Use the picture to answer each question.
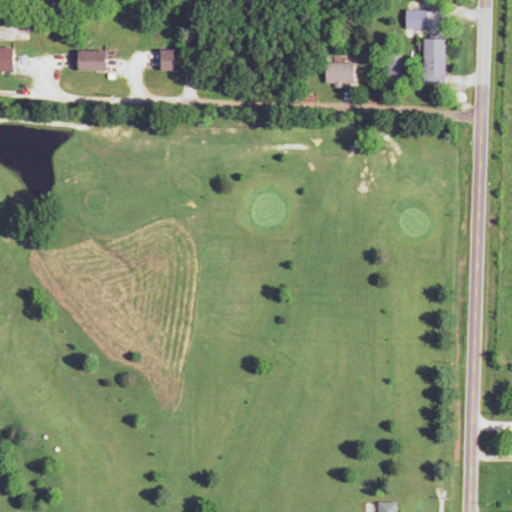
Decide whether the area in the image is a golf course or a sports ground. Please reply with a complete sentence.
What you see here is a golf course.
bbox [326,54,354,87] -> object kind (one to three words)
house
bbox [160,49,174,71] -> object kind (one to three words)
house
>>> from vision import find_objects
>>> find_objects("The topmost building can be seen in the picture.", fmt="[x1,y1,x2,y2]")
[406,10,438,30]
